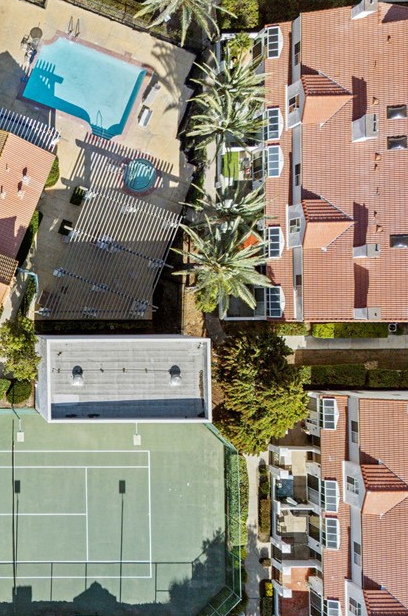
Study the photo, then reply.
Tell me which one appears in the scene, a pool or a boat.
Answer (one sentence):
I can see a pool in this picture.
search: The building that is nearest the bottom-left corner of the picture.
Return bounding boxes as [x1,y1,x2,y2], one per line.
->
[35,334,211,422]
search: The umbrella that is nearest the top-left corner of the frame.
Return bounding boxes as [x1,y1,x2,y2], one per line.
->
[26,26,43,45]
